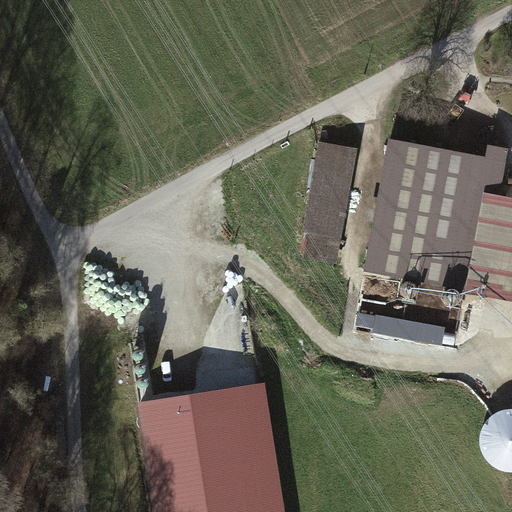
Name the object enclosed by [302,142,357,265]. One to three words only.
shed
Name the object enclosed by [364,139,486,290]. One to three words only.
barn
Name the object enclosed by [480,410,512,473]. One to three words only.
storage tank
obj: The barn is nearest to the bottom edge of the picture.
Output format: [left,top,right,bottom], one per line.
[138,384,286,512]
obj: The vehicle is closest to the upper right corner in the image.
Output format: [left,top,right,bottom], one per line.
[458,76,478,106]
